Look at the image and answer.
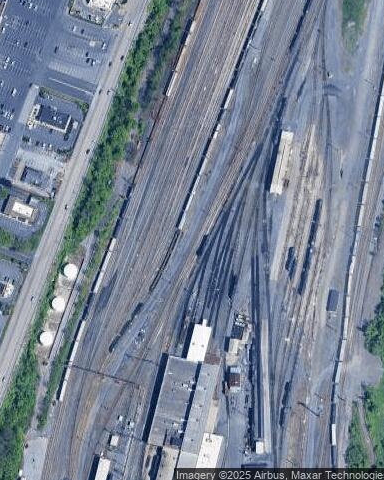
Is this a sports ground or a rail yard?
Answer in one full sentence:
This image shows a rail yard.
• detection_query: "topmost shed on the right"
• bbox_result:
[270,131,294,195]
